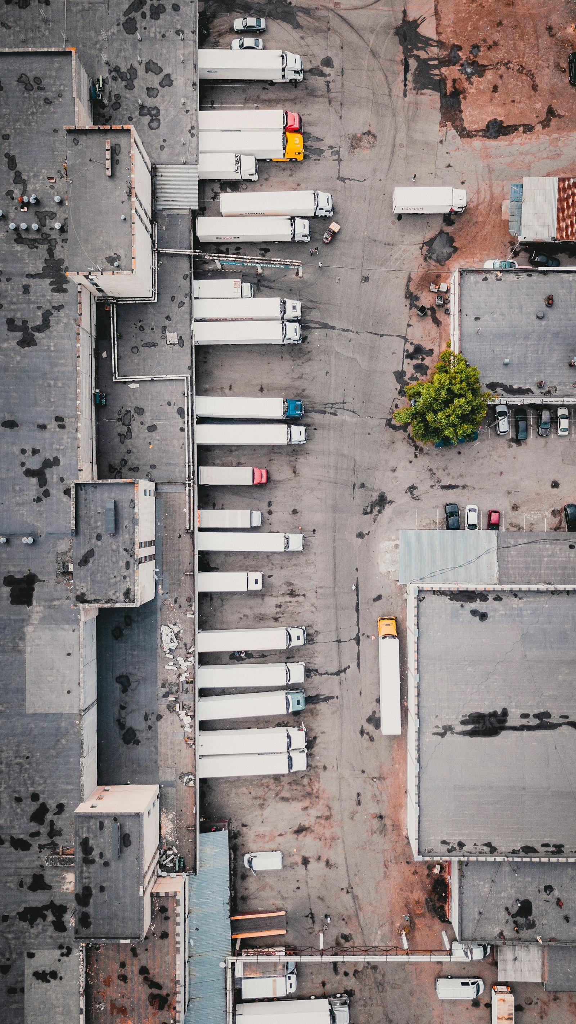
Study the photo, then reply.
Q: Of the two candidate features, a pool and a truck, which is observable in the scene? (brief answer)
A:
truck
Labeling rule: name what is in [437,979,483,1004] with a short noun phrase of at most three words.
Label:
vehicle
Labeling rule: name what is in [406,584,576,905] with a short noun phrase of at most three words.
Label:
warehouse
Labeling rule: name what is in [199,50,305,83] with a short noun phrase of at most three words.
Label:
truck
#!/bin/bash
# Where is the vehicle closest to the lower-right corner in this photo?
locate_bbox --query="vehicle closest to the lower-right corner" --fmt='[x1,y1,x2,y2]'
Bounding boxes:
[490,981,514,1024]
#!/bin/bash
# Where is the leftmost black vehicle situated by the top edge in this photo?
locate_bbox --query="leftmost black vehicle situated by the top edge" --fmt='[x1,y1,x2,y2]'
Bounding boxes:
[199,11,212,41]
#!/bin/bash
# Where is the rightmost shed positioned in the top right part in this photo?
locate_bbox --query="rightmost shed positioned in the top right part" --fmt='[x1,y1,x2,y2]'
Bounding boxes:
[515,177,576,249]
